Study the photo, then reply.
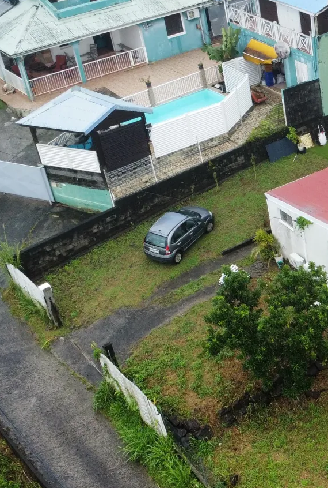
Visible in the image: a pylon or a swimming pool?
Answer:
swimming pool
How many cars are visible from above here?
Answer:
1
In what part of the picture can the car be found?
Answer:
center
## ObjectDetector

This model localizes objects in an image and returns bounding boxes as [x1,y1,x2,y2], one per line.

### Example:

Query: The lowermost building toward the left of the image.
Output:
[15,85,152,170]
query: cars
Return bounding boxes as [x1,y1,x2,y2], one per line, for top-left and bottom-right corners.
[132,207,209,263]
